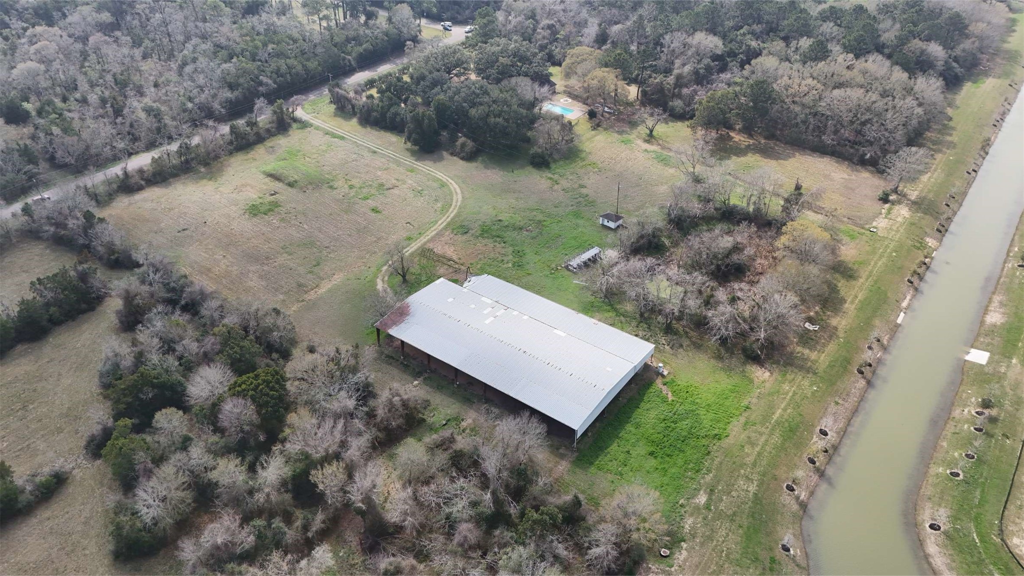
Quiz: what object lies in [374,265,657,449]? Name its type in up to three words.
barn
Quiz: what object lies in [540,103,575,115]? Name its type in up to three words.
swimming pool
